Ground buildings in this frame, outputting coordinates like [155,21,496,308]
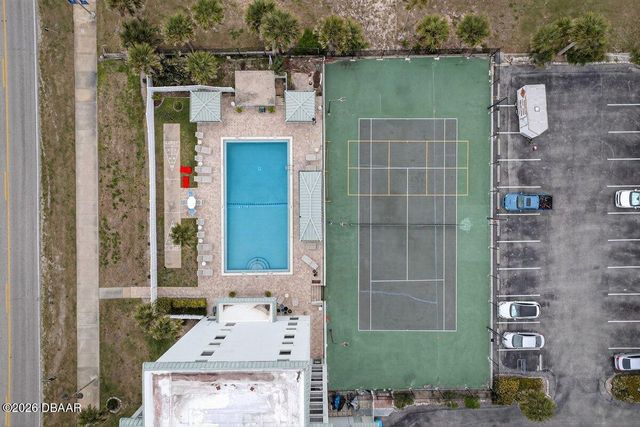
[114,294,338,427]
[235,71,276,108]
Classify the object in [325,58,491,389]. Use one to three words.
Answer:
tennis court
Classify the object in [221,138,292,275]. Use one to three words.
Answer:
swimming pool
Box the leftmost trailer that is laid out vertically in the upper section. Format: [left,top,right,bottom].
[519,84,549,148]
